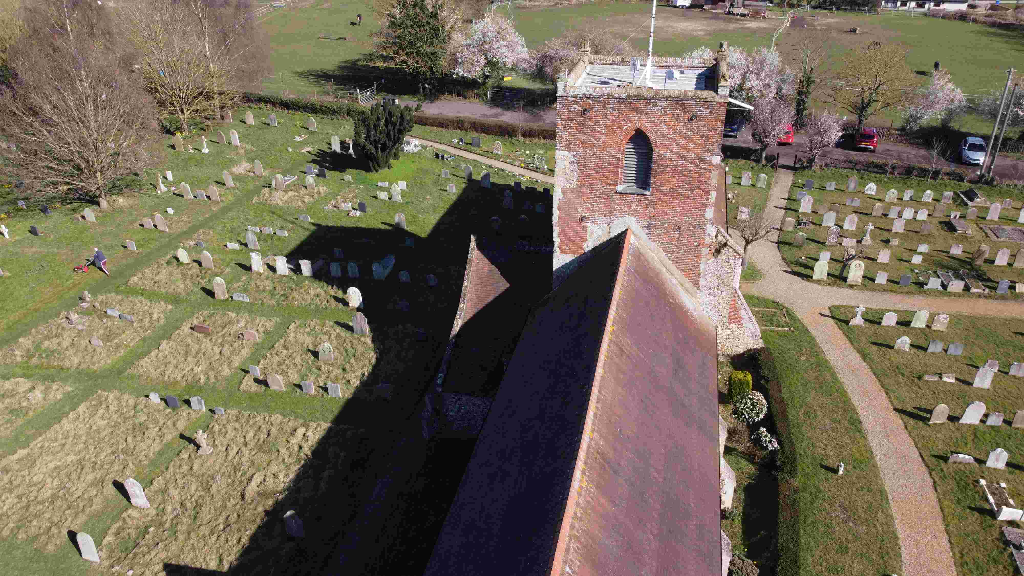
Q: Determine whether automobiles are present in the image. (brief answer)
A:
Yes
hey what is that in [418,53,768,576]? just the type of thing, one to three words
church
